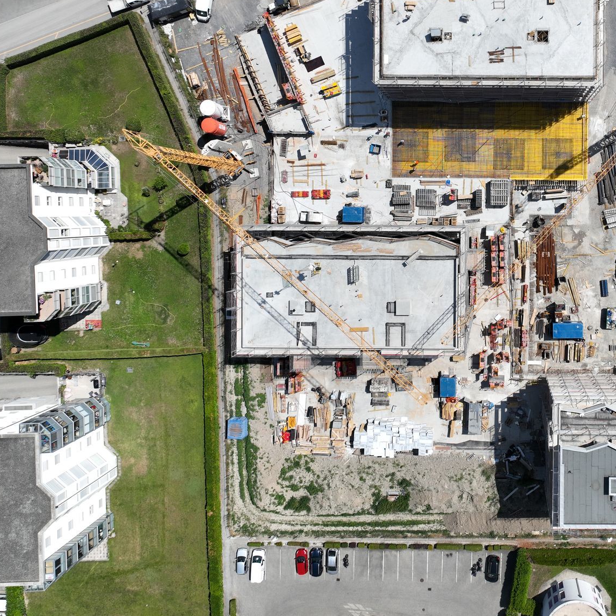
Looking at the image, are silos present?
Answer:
Yes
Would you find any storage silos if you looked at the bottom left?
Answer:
No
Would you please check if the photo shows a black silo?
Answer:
No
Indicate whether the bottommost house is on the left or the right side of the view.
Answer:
right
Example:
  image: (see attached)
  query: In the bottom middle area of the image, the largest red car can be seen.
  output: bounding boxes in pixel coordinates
[294,548,308,574]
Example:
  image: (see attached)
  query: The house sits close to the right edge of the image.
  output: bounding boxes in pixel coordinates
[544,580,610,616]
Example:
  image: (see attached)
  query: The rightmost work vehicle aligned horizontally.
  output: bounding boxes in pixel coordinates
[271,0,303,13]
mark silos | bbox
[200,99,241,122]
[202,117,242,138]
